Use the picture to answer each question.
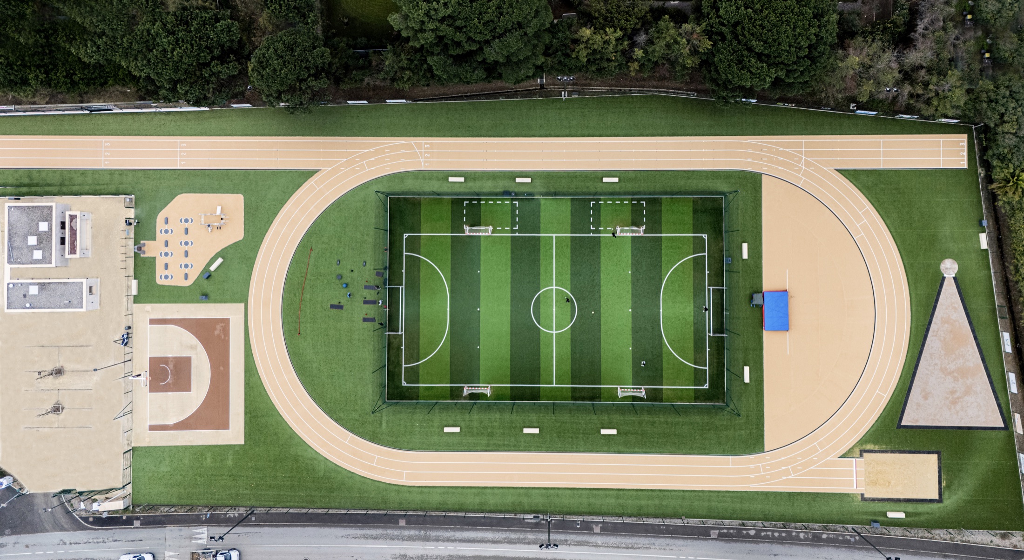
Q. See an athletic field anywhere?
Yes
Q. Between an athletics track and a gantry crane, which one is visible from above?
athletics track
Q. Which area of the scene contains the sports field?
center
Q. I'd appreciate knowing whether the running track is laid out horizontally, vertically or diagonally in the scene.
horizontally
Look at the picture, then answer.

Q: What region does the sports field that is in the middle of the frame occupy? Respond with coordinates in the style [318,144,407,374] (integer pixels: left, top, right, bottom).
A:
[386,197,725,404]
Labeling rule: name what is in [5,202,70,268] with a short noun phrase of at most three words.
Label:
building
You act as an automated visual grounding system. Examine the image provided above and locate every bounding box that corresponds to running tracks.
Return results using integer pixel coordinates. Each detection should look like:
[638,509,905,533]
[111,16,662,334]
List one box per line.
[247,169,911,490]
